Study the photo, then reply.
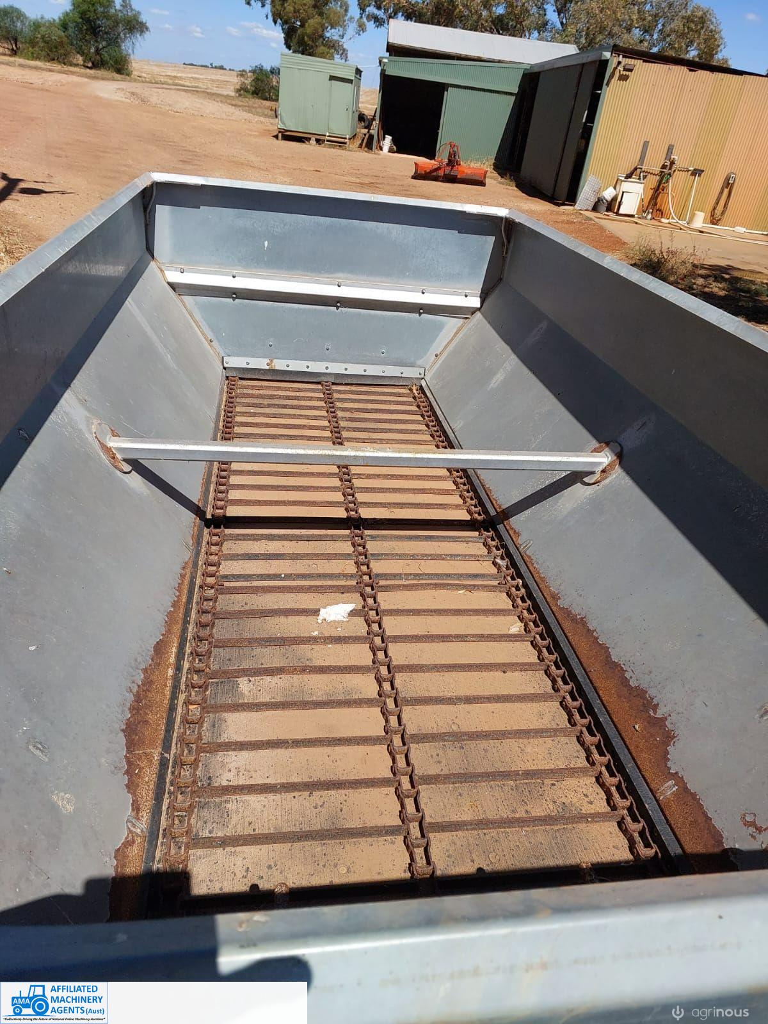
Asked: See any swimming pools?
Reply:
No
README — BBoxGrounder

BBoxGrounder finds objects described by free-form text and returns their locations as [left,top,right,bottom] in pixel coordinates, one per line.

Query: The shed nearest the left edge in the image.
[277,52,365,148]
